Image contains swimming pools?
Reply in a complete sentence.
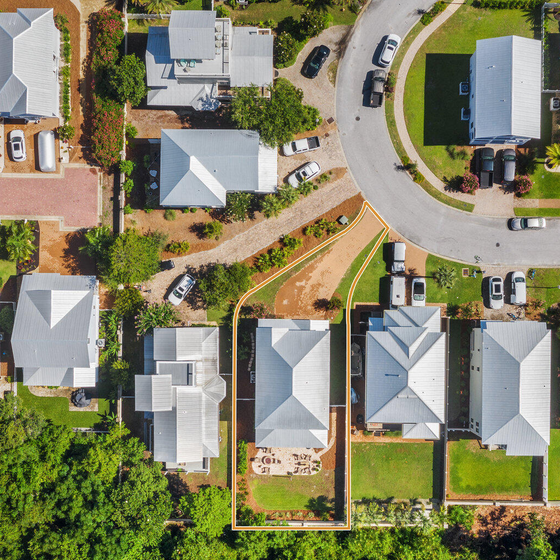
No, I find no swimming pool anywhere in the image.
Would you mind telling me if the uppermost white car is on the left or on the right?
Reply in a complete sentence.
It is on the right.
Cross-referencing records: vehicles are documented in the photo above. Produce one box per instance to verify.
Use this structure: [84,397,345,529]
[489,277,506,310]
[389,276,407,310]
[282,133,323,158]
[380,32,400,69]
[511,271,529,305]
[411,277,428,307]
[287,159,324,187]
[478,149,497,188]
[508,215,545,232]
[392,241,408,273]
[500,149,518,183]
[168,272,196,306]
[303,42,328,80]
[368,68,387,109]
[9,130,26,163]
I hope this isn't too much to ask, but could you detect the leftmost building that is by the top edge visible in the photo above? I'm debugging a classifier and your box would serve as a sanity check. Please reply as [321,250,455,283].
[0,8,60,127]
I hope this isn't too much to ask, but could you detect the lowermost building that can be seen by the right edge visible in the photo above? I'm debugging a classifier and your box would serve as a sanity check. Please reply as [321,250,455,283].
[466,320,551,456]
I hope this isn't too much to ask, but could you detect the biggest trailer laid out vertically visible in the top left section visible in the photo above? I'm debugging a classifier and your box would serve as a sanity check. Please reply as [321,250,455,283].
[37,126,58,174]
